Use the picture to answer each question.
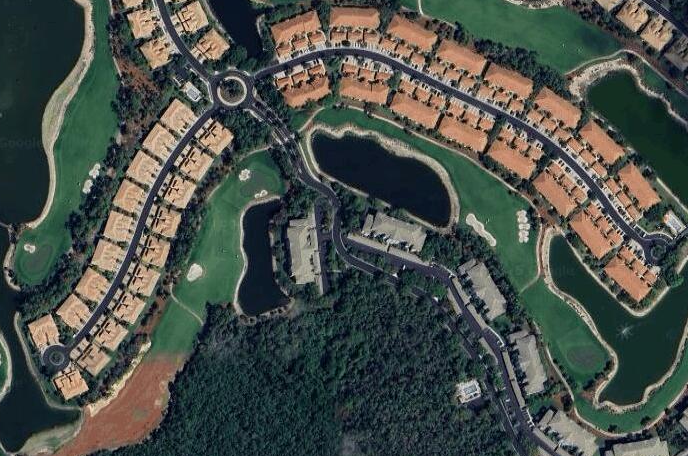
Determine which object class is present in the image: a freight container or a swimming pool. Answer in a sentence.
Visible in the photo is a swimming pool.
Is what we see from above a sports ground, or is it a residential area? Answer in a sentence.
The picture captures a residential area.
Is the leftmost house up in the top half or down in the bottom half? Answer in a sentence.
Seen from above, the leftmost house lies in the bottom half of the view.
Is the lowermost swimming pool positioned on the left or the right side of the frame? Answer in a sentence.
You can find the lowermost swimming pool on the right side of the picture.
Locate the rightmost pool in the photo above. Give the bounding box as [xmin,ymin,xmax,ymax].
[665,210,686,237]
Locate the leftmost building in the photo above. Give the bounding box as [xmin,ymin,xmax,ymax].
[27,312,59,344]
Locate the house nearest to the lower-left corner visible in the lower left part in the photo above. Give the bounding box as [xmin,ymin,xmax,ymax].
[57,369,88,400]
